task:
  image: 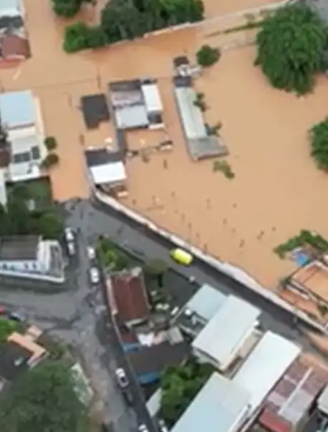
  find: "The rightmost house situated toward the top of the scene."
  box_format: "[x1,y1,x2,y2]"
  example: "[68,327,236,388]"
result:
[174,56,228,165]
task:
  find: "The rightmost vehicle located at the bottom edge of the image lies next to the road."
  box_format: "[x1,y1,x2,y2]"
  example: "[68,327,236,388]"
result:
[154,416,171,432]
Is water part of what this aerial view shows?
Yes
